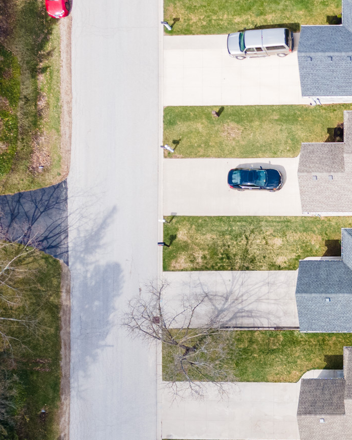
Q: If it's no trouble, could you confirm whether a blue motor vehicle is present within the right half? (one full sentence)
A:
Yes, a blue motor vehicle can be seen within the right half.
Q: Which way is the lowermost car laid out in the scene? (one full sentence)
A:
What the image shows is the lowermost car lying horizontally.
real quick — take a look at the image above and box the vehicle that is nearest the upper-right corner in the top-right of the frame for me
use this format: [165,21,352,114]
[231,30,295,61]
